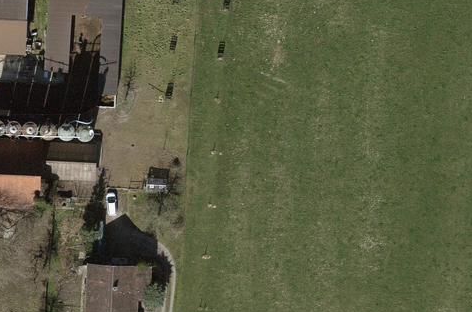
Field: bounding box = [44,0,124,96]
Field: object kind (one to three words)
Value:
barn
